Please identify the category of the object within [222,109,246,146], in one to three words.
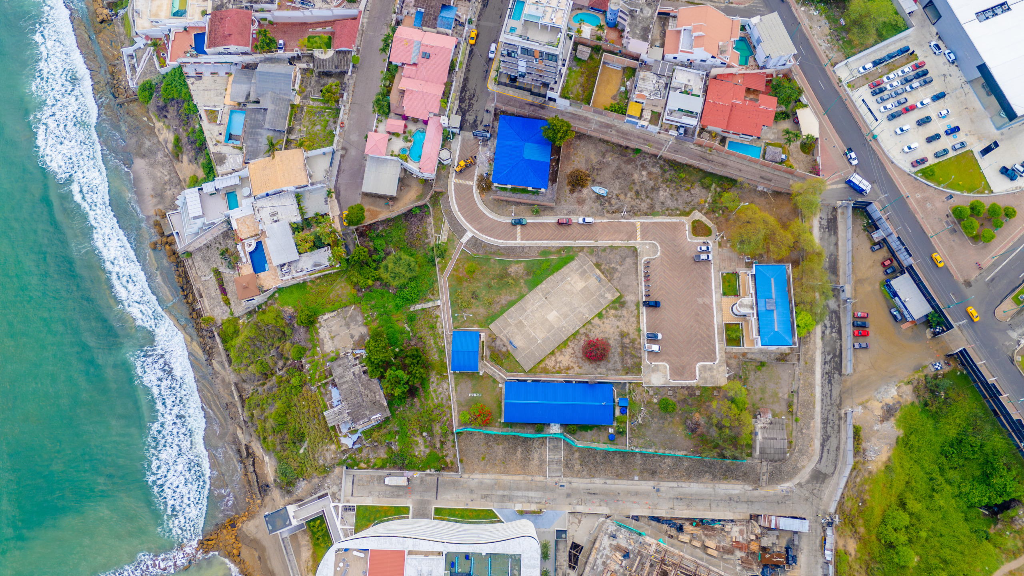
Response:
swimming pool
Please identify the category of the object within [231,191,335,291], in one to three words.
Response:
house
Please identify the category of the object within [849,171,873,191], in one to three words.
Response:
vehicle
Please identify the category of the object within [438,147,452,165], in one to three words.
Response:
gazebo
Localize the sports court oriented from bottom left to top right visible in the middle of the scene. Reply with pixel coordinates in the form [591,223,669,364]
[489,253,620,372]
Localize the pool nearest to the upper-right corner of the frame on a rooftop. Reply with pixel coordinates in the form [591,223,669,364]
[733,35,754,67]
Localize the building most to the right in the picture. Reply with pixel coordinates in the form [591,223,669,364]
[913,0,1024,131]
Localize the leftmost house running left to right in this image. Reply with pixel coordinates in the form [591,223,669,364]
[133,0,216,38]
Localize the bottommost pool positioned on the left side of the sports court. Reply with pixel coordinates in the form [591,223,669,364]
[247,239,271,275]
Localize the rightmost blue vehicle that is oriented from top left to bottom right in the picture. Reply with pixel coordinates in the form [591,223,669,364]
[1001,165,1020,179]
